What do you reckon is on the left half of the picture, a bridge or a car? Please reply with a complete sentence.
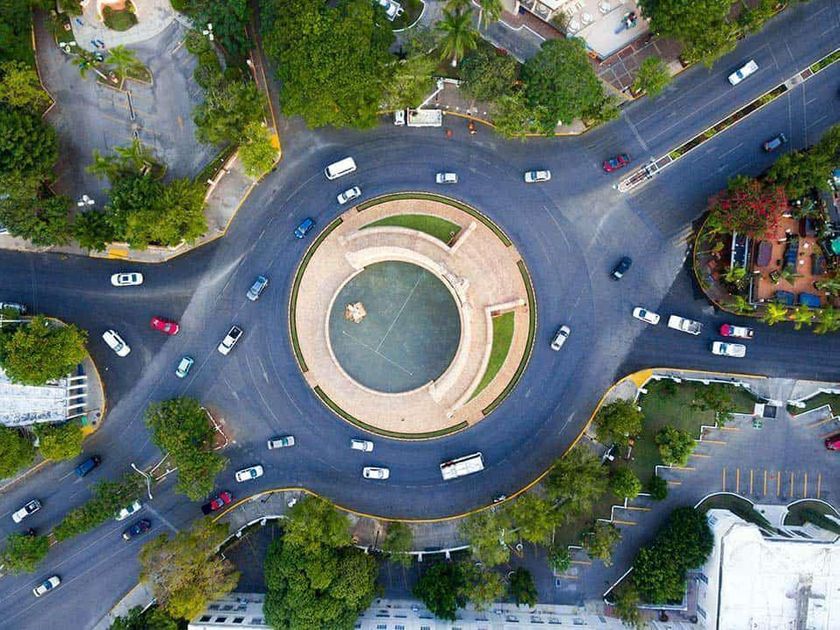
The one visible on the left half of the picture is a car.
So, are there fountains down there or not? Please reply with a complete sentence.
Yes, there's a fountain down there.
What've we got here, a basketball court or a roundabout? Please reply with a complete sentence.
Of the two, only a roundabout appears.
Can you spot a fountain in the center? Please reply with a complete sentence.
Yes, a fountain is visible in the center.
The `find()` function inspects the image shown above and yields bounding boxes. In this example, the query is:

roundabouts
[210,113,616,519]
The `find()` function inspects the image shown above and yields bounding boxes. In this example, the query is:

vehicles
[760,133,787,153]
[336,185,362,204]
[350,438,374,452]
[218,324,244,355]
[710,341,747,357]
[609,256,632,281]
[362,466,389,481]
[436,171,457,185]
[149,316,180,335]
[550,323,569,352]
[32,573,63,597]
[325,157,357,179]
[726,58,760,85]
[523,169,550,183]
[632,307,662,325]
[11,497,44,523]
[439,453,485,480]
[74,454,103,477]
[201,490,233,514]
[234,463,265,482]
[100,329,132,357]
[719,323,756,339]
[121,517,153,541]
[666,315,705,337]
[114,499,143,523]
[246,275,269,301]
[176,355,194,378]
[393,77,458,126]
[111,272,144,286]
[267,434,295,449]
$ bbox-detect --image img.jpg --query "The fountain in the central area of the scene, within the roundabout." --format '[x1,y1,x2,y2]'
[324,246,469,398]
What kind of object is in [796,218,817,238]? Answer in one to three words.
umbrella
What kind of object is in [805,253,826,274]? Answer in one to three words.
umbrella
